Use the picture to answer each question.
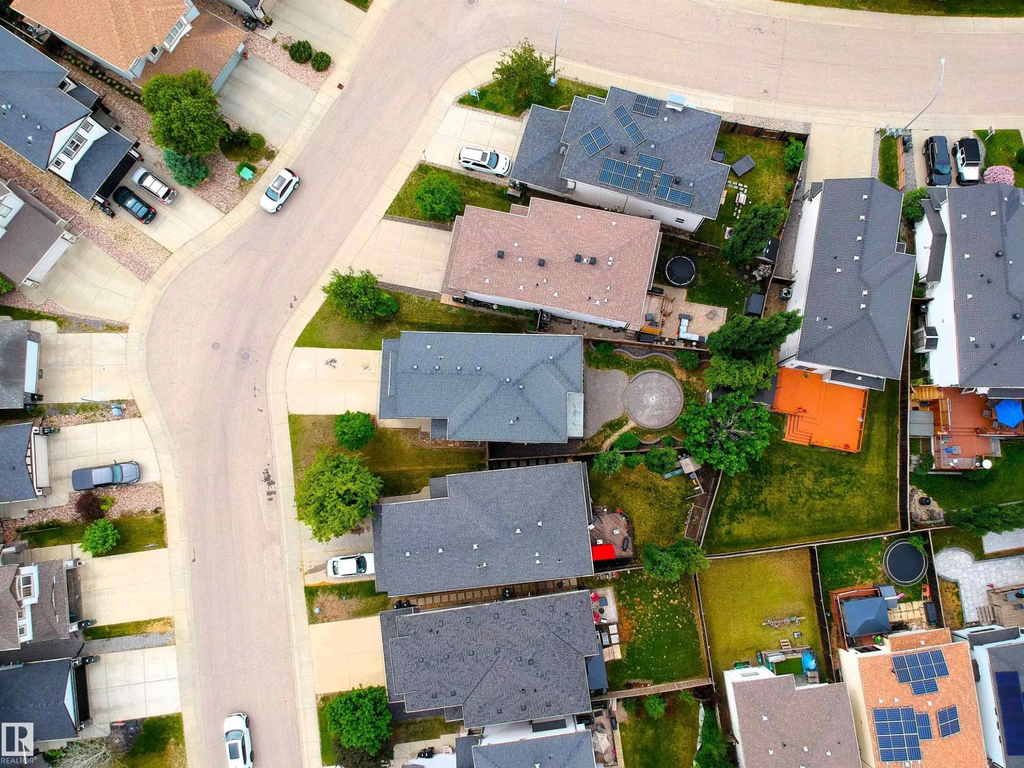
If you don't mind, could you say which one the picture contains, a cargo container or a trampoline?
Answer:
trampoline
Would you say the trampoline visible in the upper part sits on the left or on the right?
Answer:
right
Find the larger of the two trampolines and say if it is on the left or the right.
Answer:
right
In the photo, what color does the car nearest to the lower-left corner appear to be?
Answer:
white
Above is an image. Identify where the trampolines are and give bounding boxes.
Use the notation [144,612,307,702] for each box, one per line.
[878,539,928,586]
[662,255,697,289]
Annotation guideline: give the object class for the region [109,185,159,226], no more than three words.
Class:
car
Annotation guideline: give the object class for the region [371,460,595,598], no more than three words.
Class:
house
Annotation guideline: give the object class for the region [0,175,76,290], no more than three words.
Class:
house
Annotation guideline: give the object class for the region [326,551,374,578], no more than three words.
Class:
car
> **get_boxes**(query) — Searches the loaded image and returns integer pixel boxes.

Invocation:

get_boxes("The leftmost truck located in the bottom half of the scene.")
[69,460,141,491]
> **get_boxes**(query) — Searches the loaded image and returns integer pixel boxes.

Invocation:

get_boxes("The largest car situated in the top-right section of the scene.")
[923,132,953,187]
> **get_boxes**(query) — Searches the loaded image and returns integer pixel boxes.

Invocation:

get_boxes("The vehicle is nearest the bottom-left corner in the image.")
[221,711,254,768]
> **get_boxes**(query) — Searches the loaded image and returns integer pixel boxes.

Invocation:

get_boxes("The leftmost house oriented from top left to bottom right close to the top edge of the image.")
[0,20,141,204]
